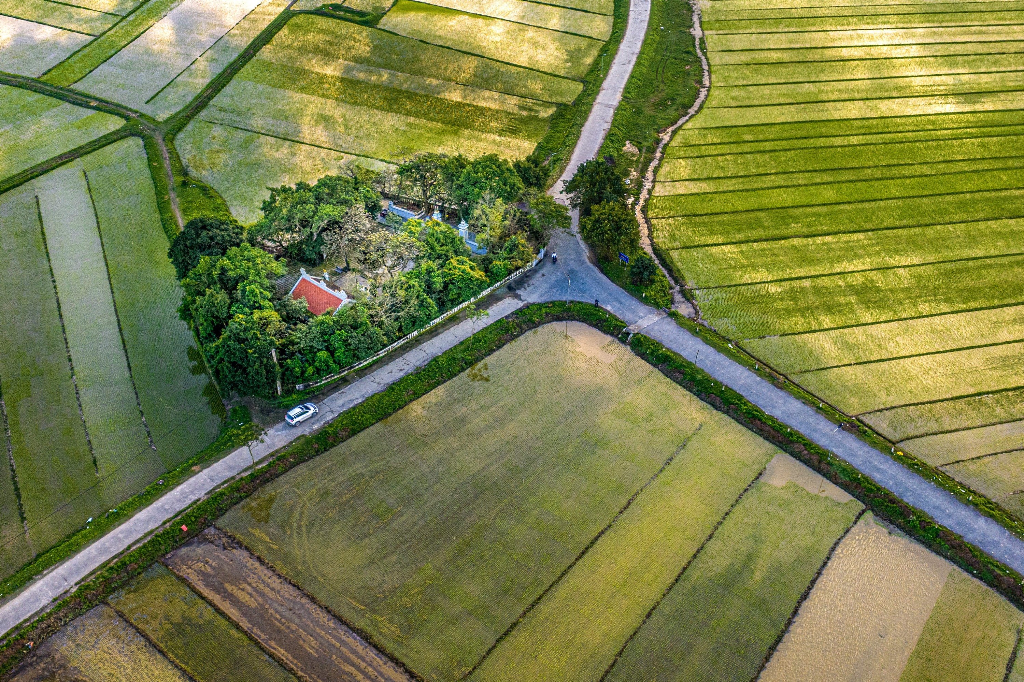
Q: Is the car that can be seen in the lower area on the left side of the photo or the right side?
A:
left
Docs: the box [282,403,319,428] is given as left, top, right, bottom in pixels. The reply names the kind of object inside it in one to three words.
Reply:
car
